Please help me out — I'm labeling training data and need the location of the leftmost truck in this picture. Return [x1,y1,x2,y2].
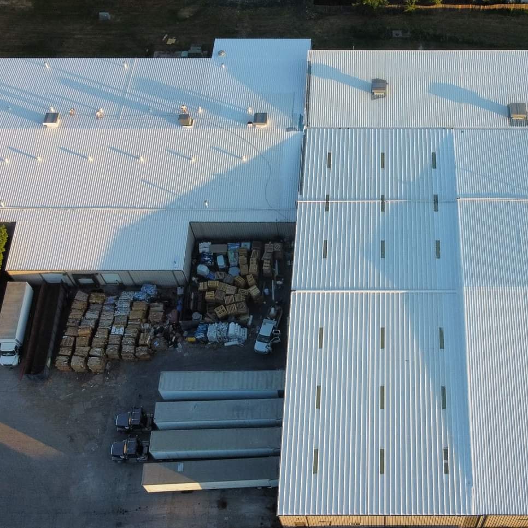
[0,282,38,375]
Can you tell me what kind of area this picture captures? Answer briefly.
industrial area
